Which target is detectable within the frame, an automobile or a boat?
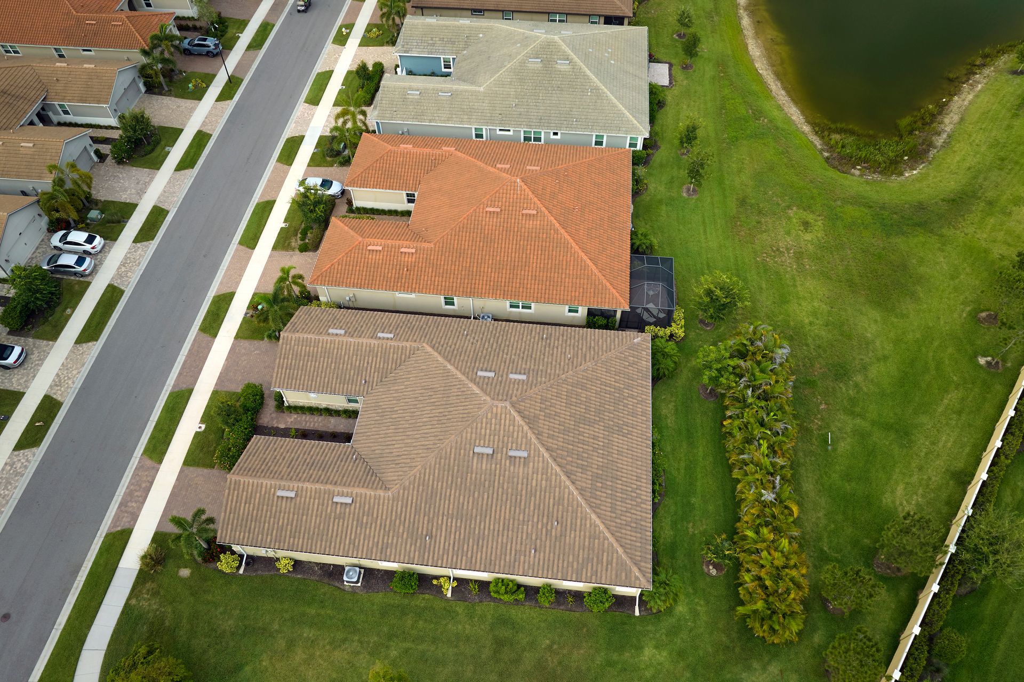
automobile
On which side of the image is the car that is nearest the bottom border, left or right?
left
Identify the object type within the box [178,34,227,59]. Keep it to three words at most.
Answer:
car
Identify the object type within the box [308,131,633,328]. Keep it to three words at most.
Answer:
house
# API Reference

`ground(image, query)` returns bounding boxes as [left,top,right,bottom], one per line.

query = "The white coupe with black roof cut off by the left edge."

[0,341,32,373]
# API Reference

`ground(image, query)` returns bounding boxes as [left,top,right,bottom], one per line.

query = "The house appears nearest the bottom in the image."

[216,305,654,600]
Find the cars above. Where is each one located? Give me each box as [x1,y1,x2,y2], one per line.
[0,341,32,373]
[178,34,227,59]
[47,230,111,256]
[38,251,102,280]
[292,175,349,201]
